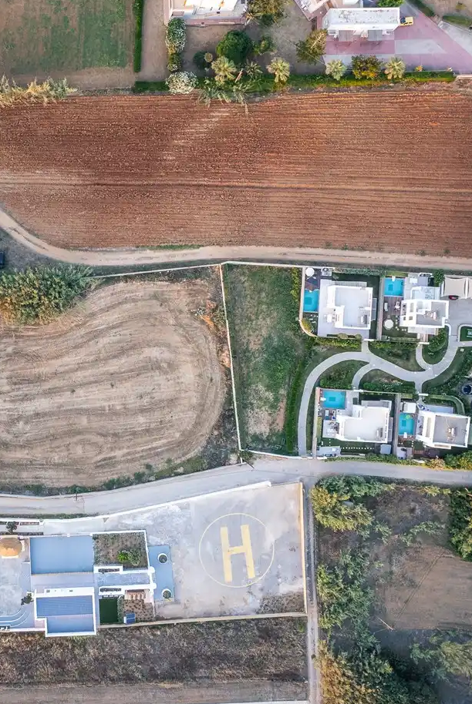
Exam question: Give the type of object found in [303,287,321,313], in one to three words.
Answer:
swimming pool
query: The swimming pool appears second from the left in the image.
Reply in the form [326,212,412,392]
[321,389,347,411]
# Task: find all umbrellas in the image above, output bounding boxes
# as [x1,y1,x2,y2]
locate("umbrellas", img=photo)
[305,267,315,277]
[383,320,394,329]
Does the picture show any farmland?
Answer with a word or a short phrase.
Yes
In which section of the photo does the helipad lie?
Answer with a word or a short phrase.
bottom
